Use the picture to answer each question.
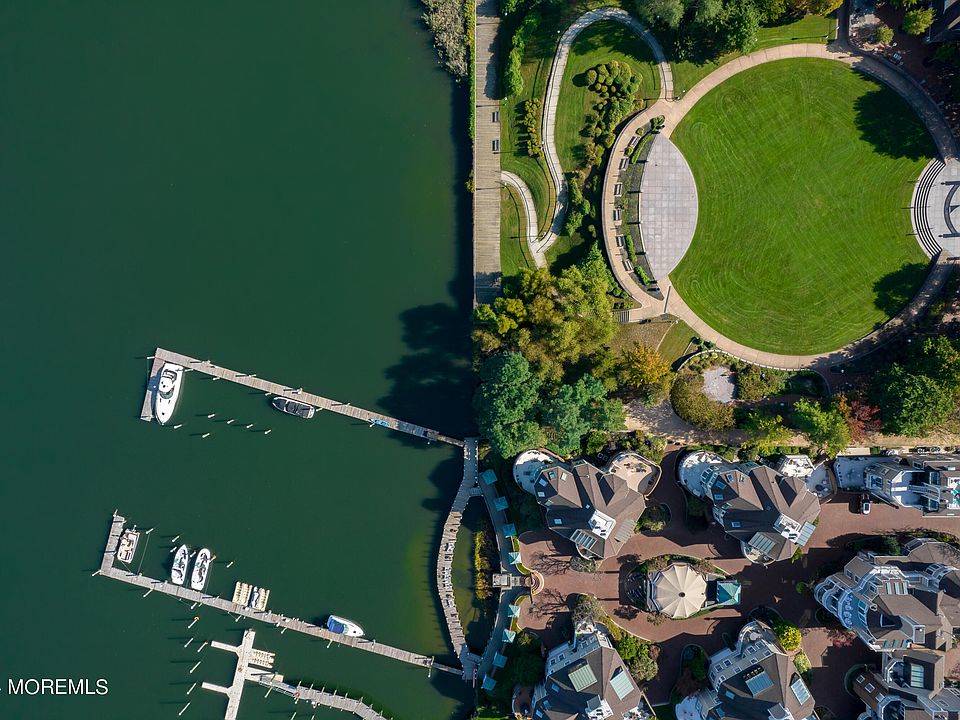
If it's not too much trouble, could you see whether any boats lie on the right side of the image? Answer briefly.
No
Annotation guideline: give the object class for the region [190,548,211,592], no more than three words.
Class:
boat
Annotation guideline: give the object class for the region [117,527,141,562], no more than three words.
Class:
boat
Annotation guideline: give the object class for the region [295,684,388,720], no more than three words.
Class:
pier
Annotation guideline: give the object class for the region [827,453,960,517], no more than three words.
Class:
house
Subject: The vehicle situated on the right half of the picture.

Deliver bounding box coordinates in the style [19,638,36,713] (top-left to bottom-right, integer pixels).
[860,492,872,512]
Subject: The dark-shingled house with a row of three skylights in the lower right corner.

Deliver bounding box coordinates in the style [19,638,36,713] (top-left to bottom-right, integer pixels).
[844,640,960,720]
